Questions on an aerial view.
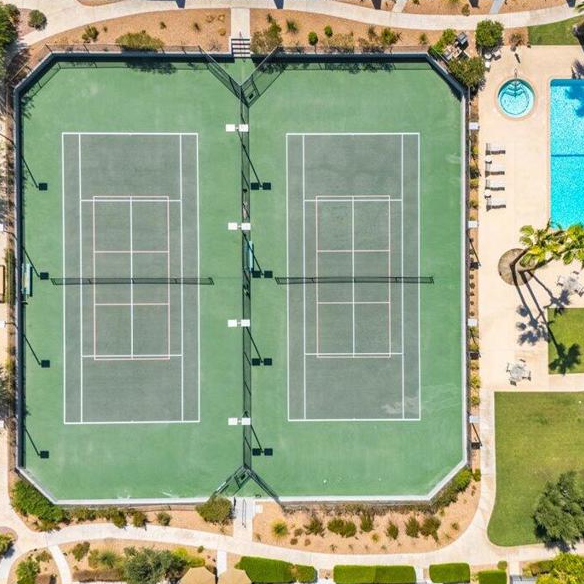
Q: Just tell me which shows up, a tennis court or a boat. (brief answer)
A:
tennis court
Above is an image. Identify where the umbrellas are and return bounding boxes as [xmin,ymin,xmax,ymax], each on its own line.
[219,567,251,584]
[181,566,215,584]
